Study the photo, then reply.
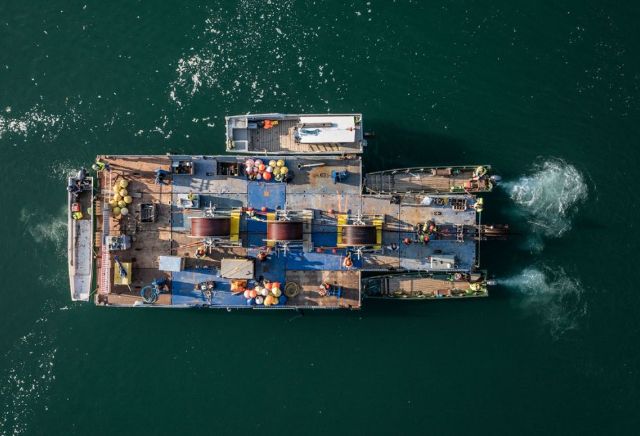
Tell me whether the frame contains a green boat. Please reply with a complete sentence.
No, the frame has no green boat in it.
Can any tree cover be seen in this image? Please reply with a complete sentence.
No, there is no tree cover in the image.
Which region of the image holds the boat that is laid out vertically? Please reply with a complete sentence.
You can find the boat that is laid out vertically in the left area of the picture.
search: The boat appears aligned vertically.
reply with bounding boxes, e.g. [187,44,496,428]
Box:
[69,155,97,302]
